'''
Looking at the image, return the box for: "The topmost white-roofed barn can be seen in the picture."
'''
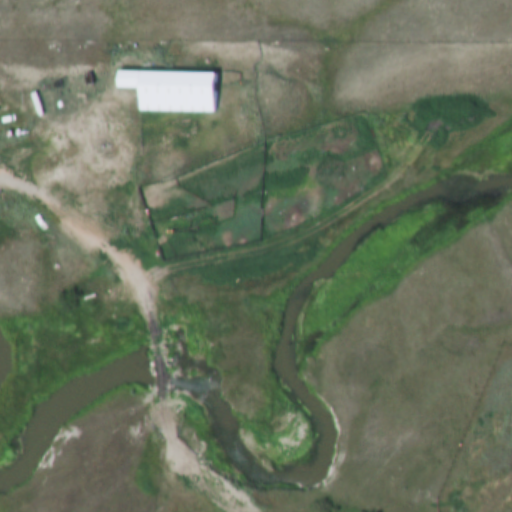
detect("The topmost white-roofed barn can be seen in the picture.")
[118,70,218,113]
